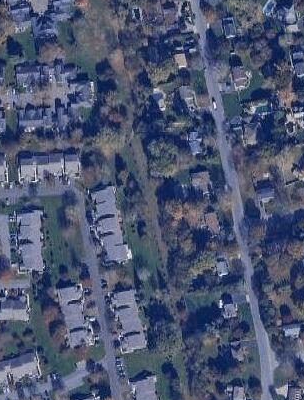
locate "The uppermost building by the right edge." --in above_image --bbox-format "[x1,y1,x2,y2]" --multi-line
[279,5,297,29]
